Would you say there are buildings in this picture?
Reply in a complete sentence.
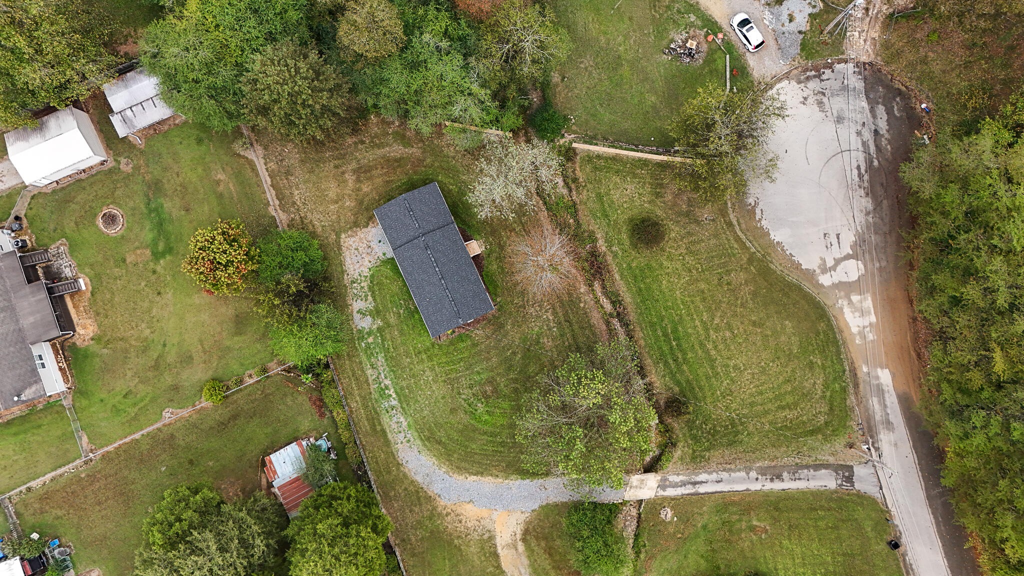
Yes, this view includes a building.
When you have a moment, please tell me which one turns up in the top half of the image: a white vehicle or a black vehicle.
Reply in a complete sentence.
You can see a white vehicle in the top half of the image.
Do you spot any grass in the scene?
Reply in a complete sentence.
Yes, there is grass in the image.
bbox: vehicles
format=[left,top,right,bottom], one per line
[731,9,769,52]
[20,554,53,576]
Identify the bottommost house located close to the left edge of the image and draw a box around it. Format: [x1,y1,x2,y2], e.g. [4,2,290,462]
[0,219,86,412]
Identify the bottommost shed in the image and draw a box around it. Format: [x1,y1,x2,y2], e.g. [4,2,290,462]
[260,440,317,520]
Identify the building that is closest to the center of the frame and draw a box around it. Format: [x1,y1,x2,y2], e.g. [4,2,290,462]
[373,182,499,342]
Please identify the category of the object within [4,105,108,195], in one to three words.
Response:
building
